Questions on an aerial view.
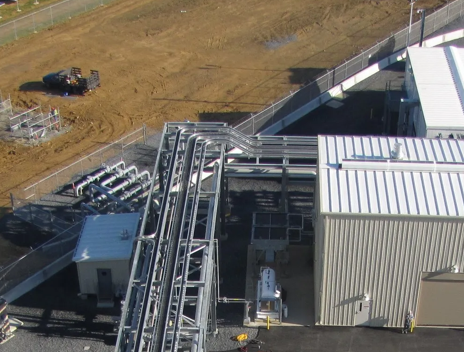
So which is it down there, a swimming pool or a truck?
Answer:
truck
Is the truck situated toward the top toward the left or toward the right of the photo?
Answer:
left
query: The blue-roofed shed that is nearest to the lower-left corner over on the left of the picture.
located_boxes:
[71,216,138,306]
